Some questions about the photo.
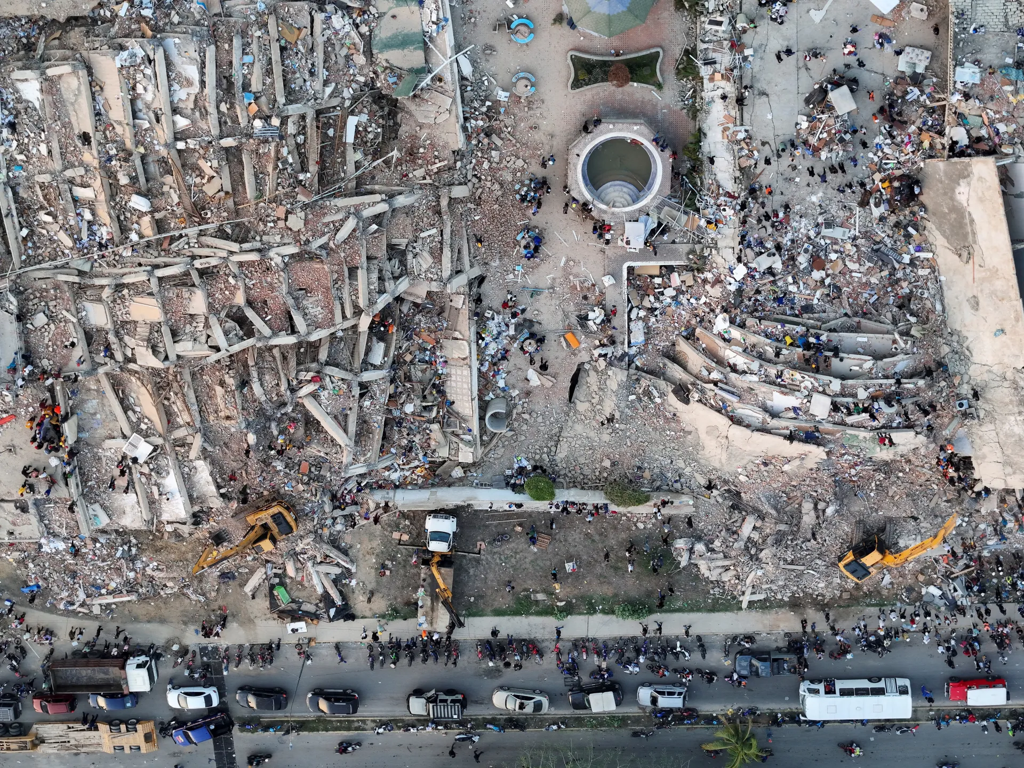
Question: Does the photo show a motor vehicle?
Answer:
Yes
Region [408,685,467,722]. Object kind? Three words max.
car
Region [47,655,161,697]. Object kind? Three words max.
truck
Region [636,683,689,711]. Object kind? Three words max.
car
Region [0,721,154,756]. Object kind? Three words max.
trailer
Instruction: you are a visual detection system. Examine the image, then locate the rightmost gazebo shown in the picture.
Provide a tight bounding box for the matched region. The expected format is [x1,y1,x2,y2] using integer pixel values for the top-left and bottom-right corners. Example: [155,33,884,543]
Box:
[561,0,658,44]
